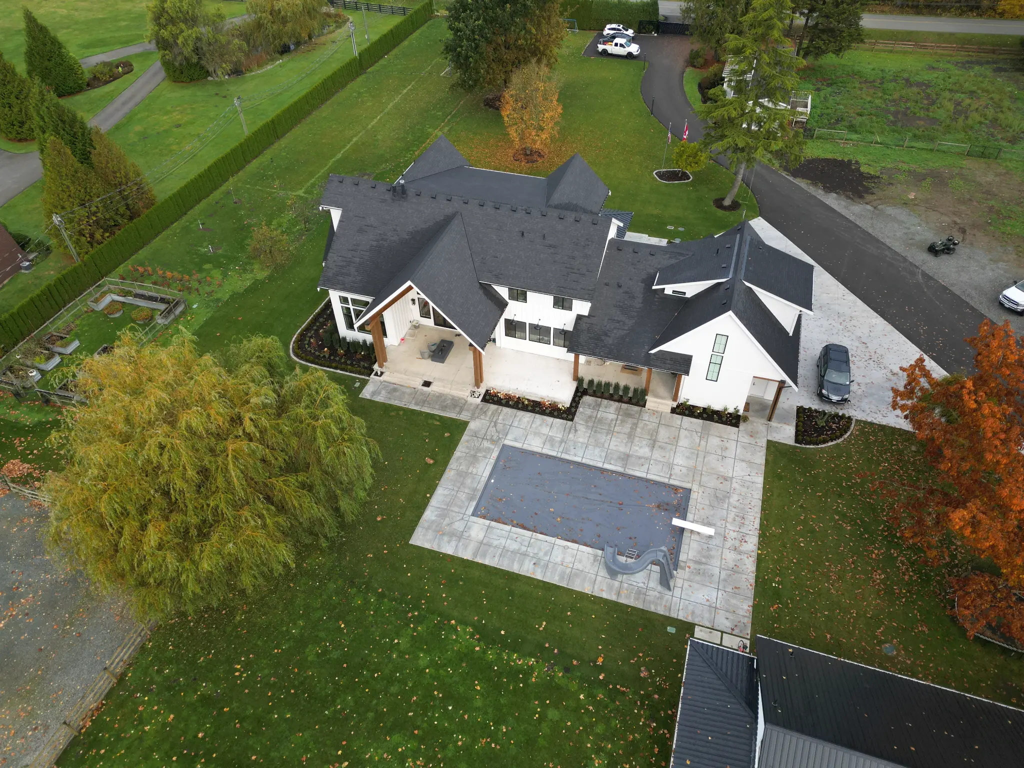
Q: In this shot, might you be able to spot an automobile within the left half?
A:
No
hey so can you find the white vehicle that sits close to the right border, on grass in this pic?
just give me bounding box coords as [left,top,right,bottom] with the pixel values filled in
[999,269,1024,309]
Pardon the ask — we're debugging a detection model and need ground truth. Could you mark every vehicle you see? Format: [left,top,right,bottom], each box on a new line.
[933,241,962,259]
[598,30,632,43]
[999,269,1024,309]
[597,38,643,59]
[817,343,856,405]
